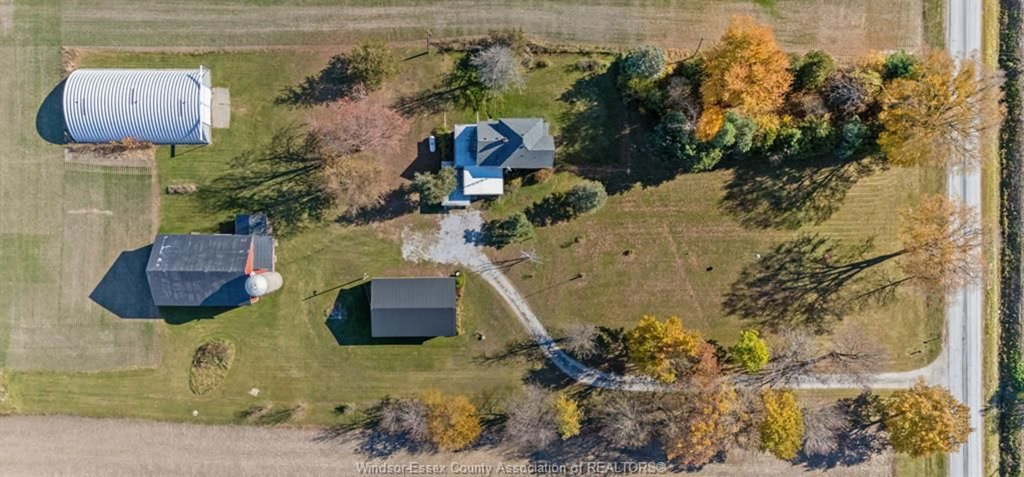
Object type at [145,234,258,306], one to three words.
barn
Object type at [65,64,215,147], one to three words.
building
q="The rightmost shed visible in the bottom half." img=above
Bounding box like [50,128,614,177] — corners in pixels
[369,278,456,338]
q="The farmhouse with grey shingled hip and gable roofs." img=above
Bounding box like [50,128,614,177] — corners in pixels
[441,119,555,206]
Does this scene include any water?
No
